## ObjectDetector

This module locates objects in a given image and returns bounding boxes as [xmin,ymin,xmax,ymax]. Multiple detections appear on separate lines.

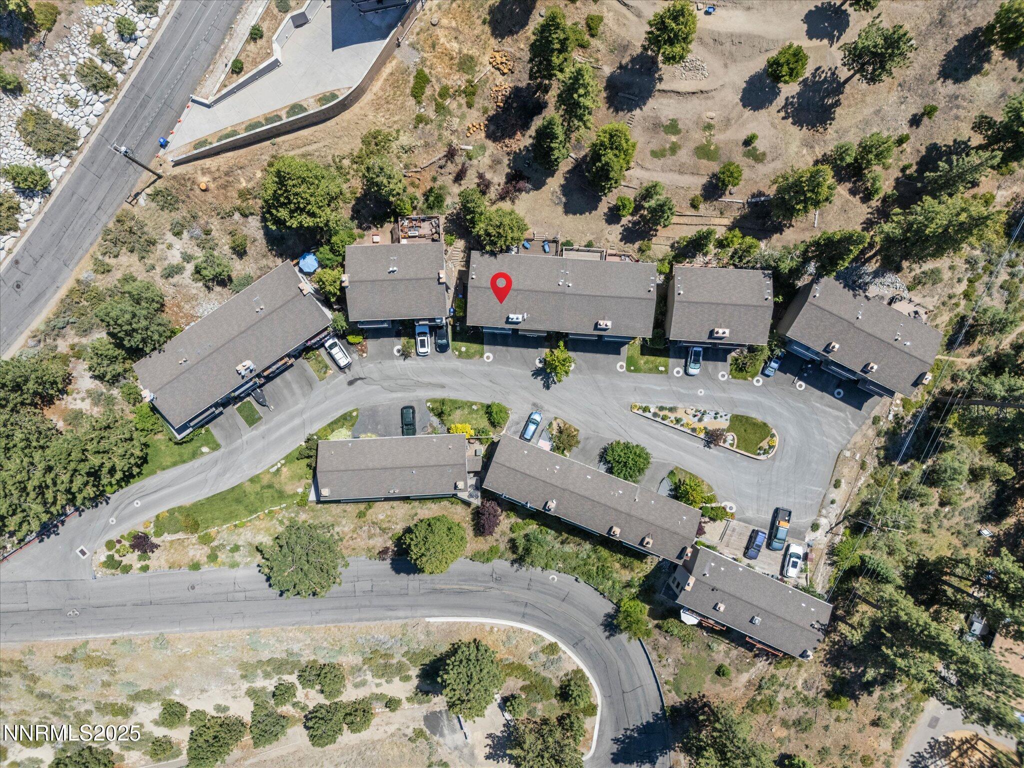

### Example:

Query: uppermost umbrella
[299,253,319,273]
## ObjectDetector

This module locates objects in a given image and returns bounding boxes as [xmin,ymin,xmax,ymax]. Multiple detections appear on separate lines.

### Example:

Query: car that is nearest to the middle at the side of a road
[521,410,542,441]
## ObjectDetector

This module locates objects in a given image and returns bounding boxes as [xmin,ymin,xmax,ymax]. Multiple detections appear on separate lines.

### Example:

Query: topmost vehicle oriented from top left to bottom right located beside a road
[325,338,351,370]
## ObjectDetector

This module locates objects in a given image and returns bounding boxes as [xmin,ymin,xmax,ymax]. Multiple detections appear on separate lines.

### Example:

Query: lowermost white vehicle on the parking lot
[784,544,803,578]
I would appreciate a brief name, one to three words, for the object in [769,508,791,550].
truck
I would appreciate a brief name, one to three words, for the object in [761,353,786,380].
car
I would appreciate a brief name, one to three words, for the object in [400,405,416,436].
car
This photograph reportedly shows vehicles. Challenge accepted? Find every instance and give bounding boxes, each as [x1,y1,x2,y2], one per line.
[761,353,786,380]
[400,405,416,436]
[325,338,351,370]
[434,325,450,353]
[415,325,431,357]
[769,508,791,550]
[745,528,766,559]
[687,348,702,376]
[784,544,803,578]
[521,410,542,441]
